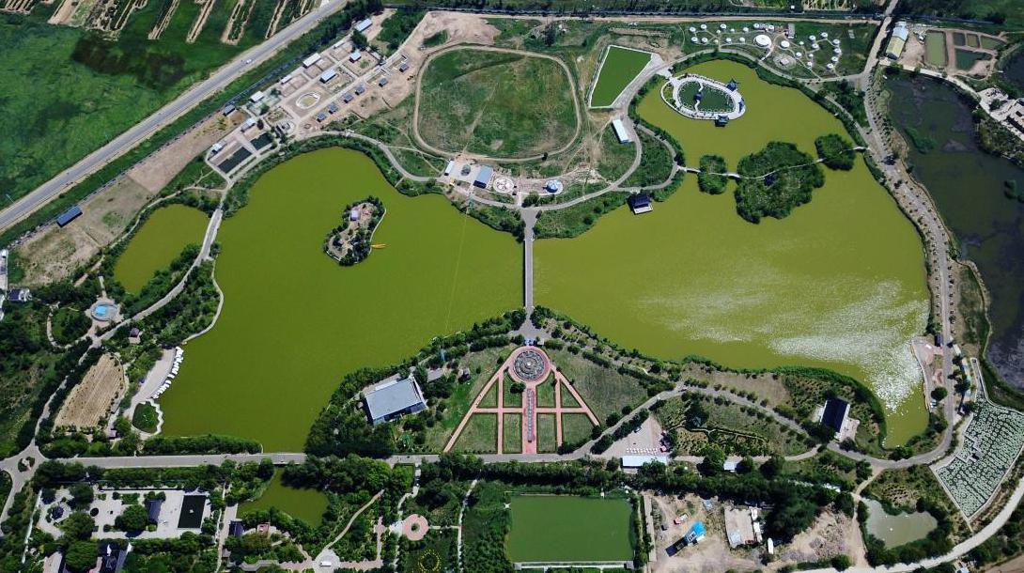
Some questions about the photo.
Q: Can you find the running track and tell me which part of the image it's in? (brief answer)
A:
top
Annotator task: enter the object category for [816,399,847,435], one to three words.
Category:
building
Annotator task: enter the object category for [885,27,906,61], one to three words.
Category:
barn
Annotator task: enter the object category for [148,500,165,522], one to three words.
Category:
building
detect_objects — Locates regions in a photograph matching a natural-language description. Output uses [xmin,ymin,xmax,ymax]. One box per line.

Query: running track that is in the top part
[413,44,582,162]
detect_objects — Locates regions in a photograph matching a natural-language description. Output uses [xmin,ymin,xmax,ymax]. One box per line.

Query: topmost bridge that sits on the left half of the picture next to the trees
[190,207,222,271]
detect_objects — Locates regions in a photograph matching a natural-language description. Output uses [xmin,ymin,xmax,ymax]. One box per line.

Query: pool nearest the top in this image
[87,298,121,324]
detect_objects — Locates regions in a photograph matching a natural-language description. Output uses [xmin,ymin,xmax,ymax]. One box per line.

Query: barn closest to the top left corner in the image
[57,206,85,229]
